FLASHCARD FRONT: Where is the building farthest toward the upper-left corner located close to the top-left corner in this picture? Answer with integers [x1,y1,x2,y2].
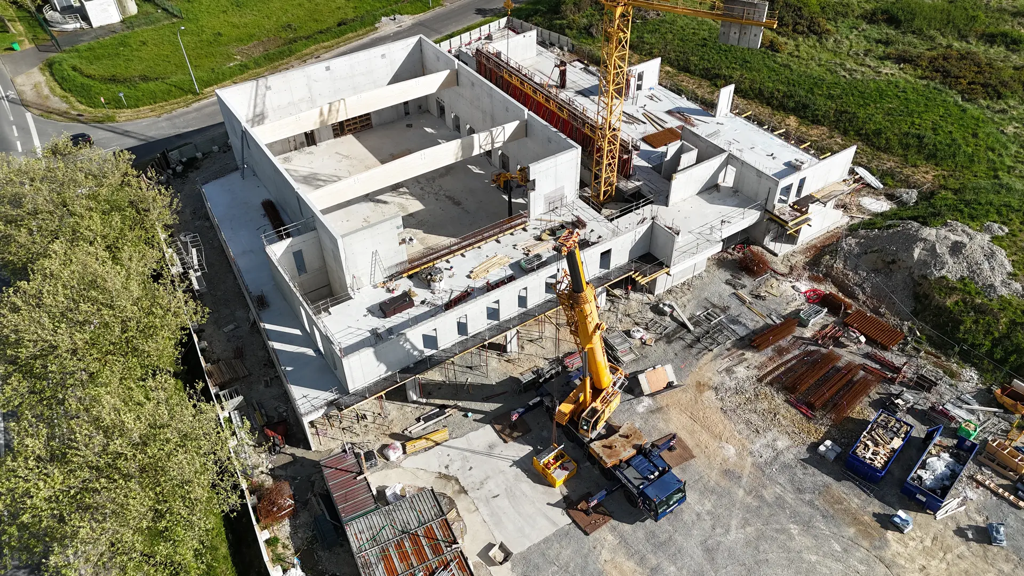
[26,0,89,34]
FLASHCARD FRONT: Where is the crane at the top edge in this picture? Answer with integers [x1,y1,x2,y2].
[564,0,772,214]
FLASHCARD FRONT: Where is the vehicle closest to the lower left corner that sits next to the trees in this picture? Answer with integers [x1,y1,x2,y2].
[245,411,299,456]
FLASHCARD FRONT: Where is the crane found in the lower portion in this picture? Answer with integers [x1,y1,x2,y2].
[509,235,693,524]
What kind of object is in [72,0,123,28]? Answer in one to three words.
shed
